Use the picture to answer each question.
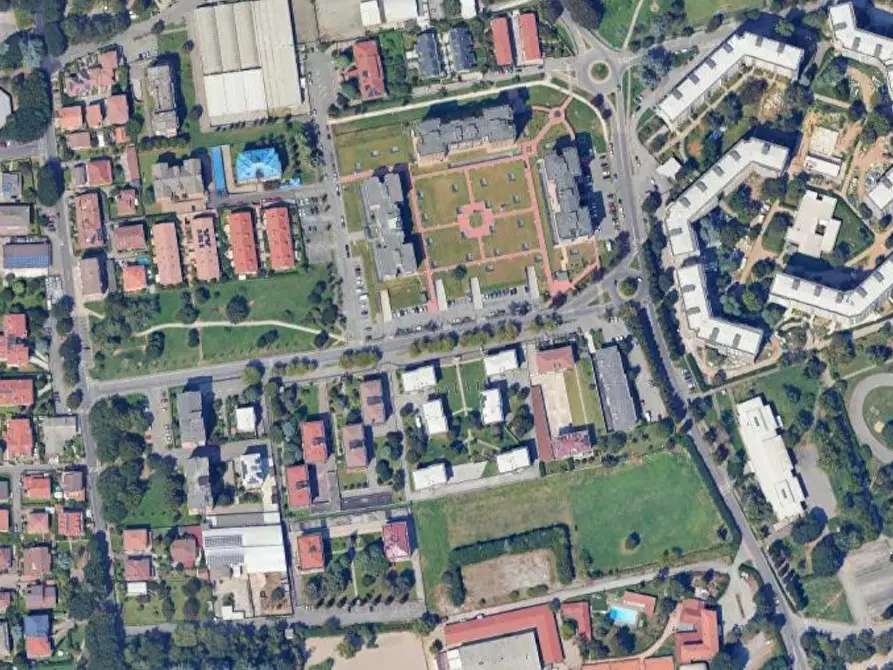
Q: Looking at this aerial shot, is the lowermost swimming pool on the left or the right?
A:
right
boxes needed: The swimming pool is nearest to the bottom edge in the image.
[606,603,639,626]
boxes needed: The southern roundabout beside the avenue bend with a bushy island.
[609,266,648,305]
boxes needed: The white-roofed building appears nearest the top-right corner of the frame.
[828,2,893,103]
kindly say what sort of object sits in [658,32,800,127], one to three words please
building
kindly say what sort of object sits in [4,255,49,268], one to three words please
solar panel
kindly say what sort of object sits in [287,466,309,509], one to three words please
house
